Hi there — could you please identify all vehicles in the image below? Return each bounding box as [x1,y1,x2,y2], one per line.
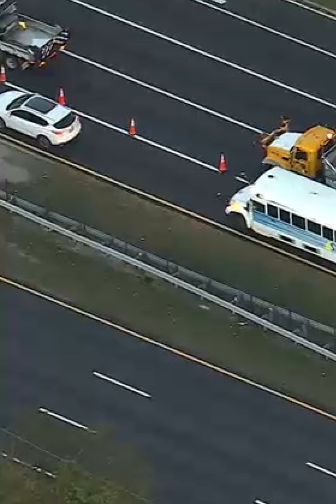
[222,166,336,264]
[258,116,336,189]
[0,2,67,70]
[0,91,78,147]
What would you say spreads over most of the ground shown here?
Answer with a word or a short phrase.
paved ground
